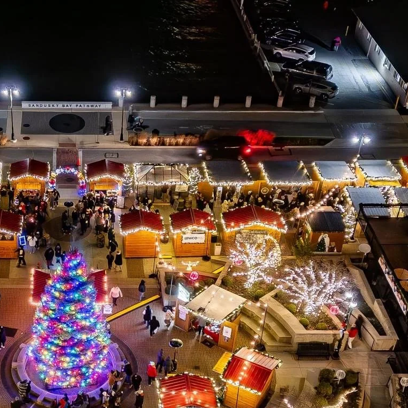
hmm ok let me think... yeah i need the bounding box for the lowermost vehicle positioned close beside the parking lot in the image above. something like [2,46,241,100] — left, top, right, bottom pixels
[190,122,259,157]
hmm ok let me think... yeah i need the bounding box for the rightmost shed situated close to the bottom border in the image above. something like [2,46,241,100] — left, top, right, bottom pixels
[213,347,281,408]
